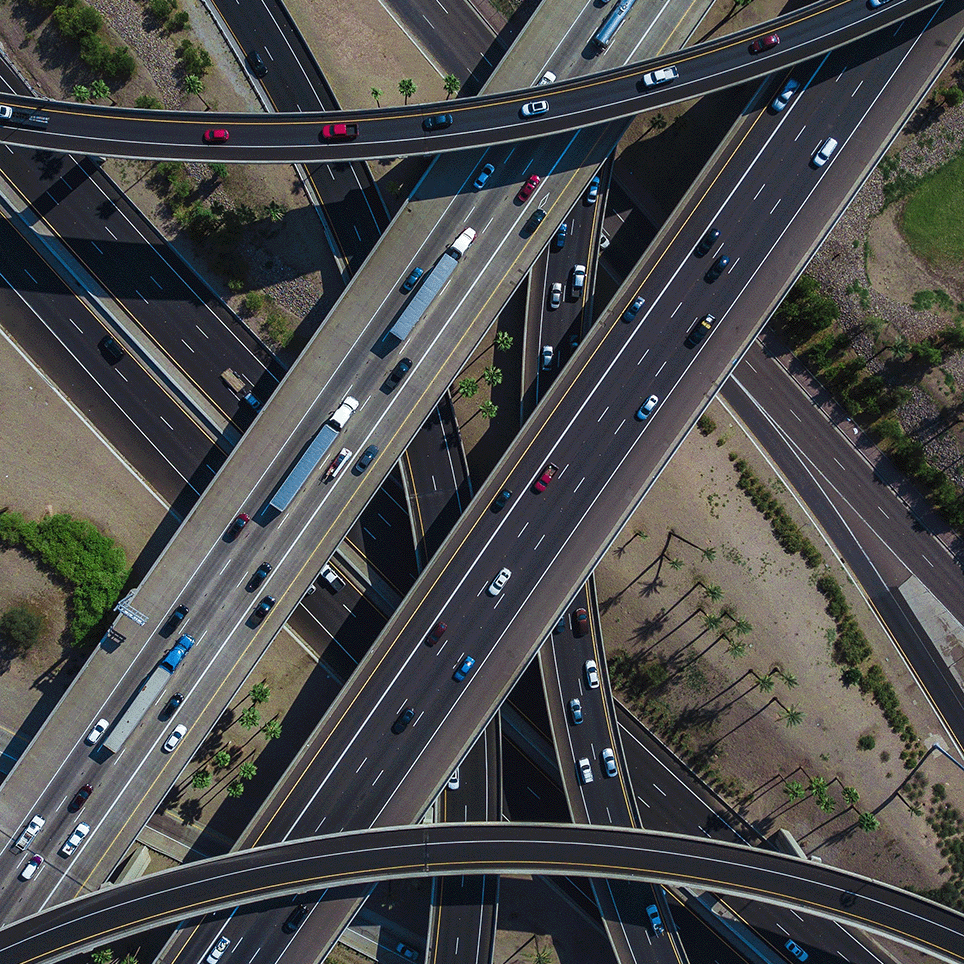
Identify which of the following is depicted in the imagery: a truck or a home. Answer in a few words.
truck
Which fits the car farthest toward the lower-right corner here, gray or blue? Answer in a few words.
blue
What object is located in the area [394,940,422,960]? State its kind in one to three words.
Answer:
car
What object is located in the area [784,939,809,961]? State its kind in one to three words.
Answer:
car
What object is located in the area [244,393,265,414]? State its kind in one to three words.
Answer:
vehicle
